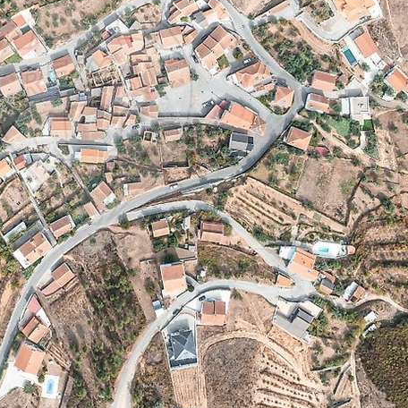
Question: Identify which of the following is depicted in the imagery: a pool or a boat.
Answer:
pool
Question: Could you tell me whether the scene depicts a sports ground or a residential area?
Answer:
residential area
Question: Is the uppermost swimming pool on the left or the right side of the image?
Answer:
right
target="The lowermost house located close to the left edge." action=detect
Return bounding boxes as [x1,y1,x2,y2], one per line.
[16,341,44,373]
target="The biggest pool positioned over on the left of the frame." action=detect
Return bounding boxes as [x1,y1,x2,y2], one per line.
[41,374,58,398]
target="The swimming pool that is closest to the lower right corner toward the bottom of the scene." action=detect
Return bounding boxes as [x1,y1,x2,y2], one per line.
[311,241,360,256]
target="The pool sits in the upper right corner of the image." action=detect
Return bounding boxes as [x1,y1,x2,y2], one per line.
[339,46,359,68]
